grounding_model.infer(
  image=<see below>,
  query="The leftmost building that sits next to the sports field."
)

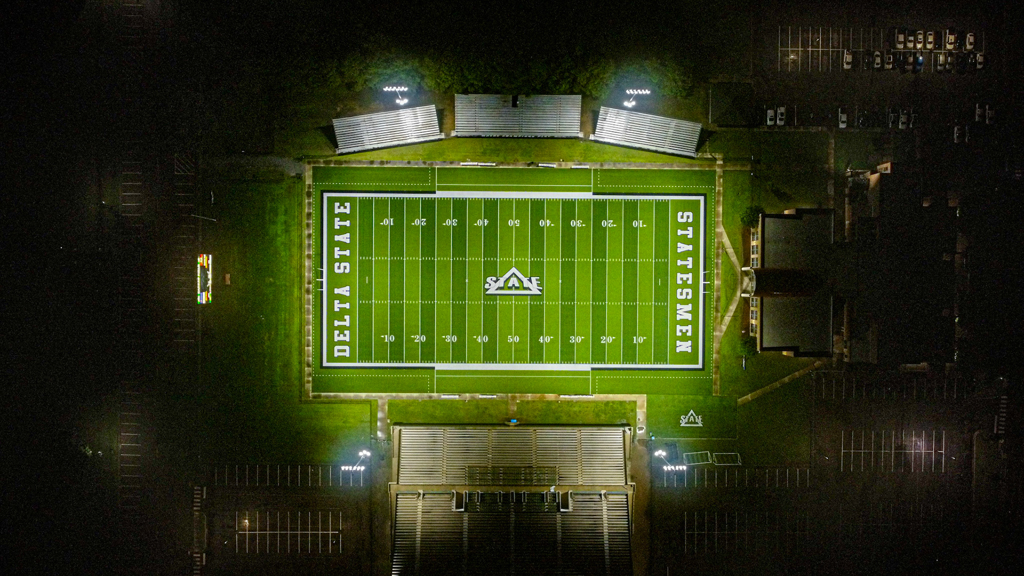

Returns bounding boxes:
[739,208,833,358]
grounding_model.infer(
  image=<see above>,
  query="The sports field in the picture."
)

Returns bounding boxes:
[312,168,716,395]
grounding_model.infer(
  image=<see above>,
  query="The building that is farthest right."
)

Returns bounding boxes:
[841,163,962,373]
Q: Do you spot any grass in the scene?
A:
Yes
